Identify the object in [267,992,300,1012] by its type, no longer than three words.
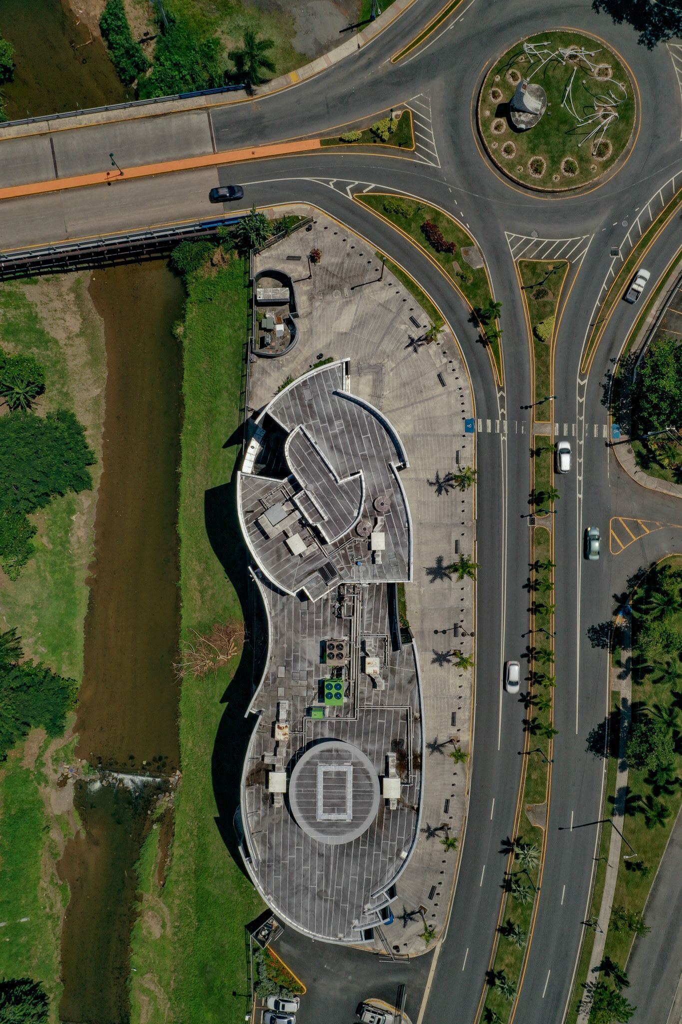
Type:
car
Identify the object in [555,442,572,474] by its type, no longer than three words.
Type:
car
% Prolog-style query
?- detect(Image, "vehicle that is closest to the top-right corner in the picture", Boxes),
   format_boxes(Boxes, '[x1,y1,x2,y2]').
[622,268,650,308]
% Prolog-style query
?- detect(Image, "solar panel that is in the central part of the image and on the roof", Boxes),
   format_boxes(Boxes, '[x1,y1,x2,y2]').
[317,562,338,582]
